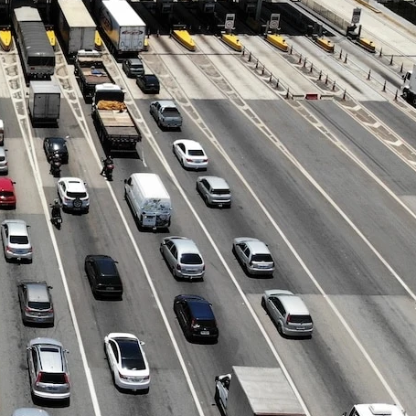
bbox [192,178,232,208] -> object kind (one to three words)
car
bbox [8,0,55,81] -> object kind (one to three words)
truck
